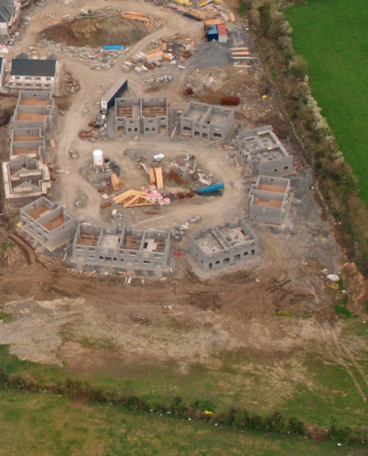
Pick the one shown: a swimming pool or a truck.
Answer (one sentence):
There is a truck in the scene.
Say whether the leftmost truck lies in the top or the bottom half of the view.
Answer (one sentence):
You can find the leftmost truck in the top half.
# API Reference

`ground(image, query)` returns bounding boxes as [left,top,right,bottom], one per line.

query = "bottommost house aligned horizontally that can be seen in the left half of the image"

[69,224,174,270]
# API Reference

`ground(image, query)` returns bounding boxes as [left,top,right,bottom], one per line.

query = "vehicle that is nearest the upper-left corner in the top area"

[93,79,127,122]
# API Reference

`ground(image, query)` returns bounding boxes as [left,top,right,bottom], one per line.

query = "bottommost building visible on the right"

[181,218,265,274]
